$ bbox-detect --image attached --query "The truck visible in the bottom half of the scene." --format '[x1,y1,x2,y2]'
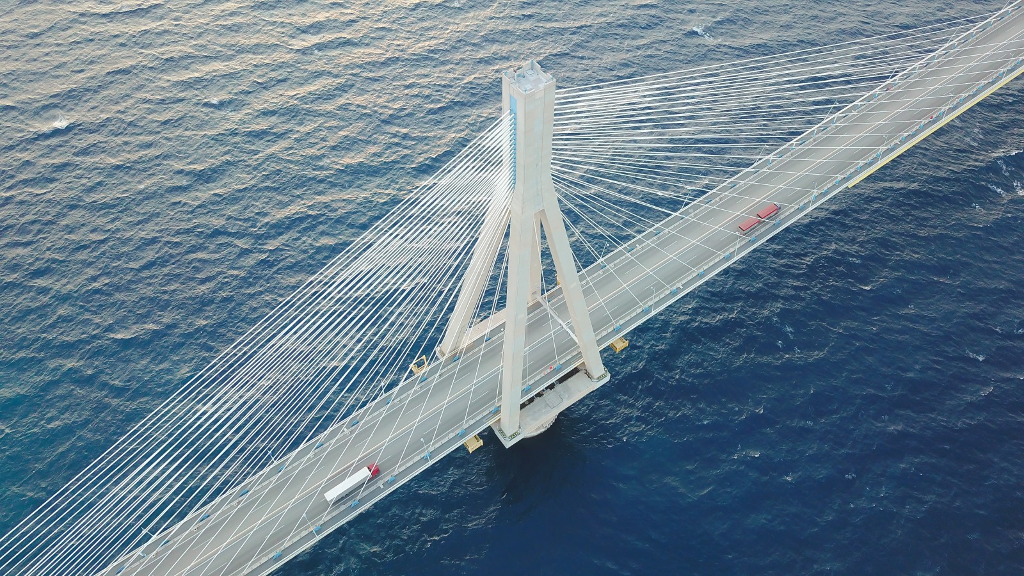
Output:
[324,463,381,505]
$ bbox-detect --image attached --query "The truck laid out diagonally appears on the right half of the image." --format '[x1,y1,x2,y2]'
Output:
[737,204,781,236]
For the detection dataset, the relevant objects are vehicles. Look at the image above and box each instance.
[324,463,381,505]
[737,204,781,236]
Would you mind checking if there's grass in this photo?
No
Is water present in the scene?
Yes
